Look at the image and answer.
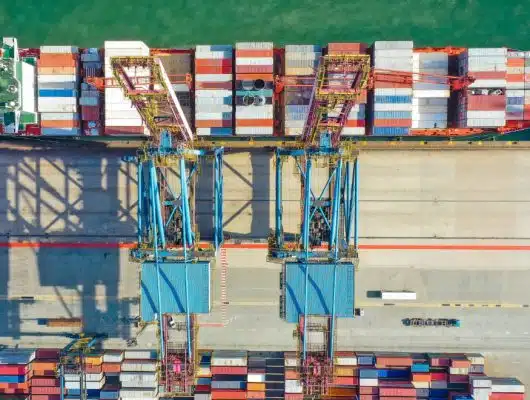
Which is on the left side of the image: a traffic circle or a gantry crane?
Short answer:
gantry crane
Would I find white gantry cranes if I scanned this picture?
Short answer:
No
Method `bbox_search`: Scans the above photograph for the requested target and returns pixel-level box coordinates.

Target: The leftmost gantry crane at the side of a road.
[57,340,104,400]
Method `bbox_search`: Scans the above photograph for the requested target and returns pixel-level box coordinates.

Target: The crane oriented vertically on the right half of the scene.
[267,57,374,397]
